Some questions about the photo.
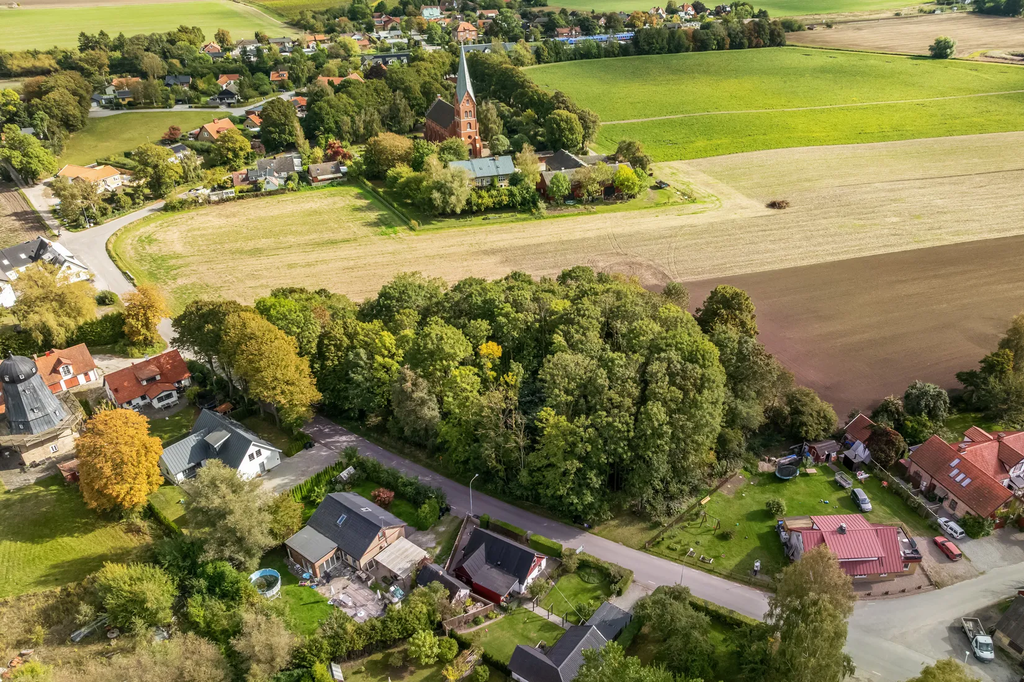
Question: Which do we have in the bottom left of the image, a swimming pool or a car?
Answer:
swimming pool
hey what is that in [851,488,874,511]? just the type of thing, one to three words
car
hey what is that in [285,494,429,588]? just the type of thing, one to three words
house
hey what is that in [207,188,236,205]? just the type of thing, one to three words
building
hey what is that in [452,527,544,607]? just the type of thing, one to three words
house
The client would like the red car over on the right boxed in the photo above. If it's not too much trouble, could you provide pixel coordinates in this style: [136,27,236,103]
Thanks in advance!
[932,537,966,562]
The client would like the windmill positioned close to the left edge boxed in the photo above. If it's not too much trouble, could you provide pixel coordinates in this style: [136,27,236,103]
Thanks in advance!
[0,344,86,467]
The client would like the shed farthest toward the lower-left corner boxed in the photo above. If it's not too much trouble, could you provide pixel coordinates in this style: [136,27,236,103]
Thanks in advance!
[58,450,90,485]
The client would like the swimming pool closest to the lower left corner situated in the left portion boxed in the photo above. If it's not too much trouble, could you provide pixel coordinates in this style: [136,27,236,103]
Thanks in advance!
[250,567,285,600]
